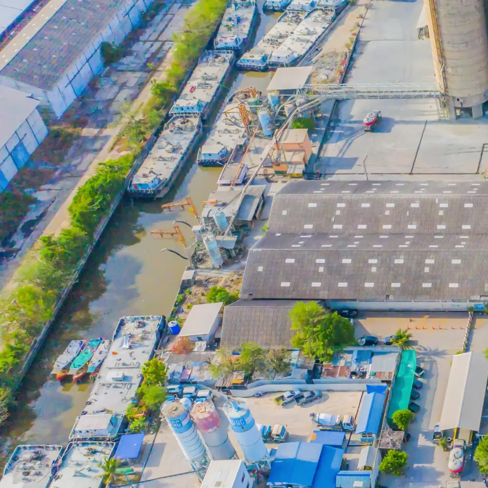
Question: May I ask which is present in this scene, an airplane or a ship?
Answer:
ship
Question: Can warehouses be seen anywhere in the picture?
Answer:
Yes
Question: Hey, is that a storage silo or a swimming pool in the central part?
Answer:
storage silo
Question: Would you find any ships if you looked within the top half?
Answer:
Yes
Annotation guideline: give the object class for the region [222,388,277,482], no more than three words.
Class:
silo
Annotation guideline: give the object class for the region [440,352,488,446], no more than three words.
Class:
shed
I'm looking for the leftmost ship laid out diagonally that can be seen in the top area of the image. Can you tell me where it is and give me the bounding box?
[126,115,202,200]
